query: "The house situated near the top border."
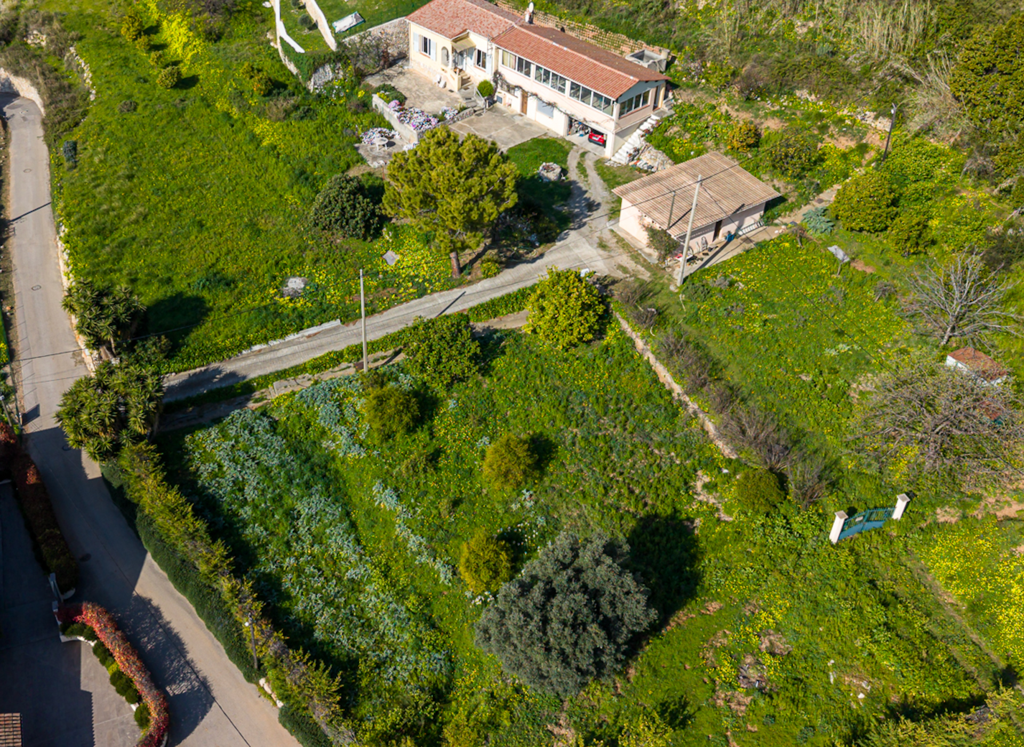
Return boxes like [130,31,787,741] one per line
[403,0,690,163]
